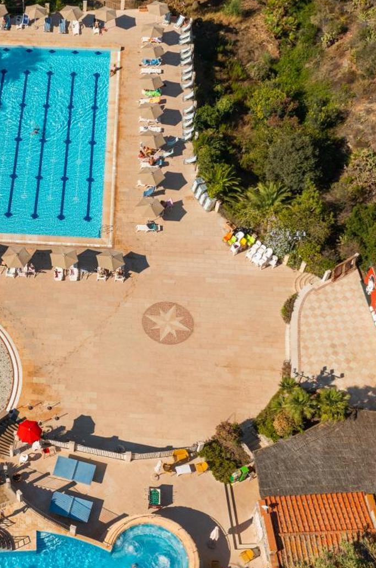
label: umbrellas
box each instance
[206,529,218,546]
[60,4,87,30]
[97,247,131,276]
[136,165,167,191]
[14,419,45,448]
[94,6,121,23]
[23,4,51,20]
[152,459,163,477]
[137,72,166,98]
[138,42,168,68]
[139,23,166,43]
[136,100,163,128]
[0,3,13,19]
[135,196,167,224]
[2,244,34,273]
[47,245,82,275]
[139,129,169,156]
[145,0,172,26]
